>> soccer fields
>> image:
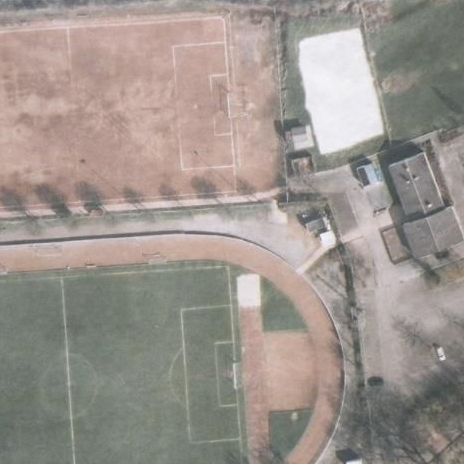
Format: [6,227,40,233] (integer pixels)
[0,260,319,464]
[0,13,242,212]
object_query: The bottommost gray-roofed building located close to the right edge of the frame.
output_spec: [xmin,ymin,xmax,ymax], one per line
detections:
[402,207,464,259]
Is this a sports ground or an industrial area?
sports ground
